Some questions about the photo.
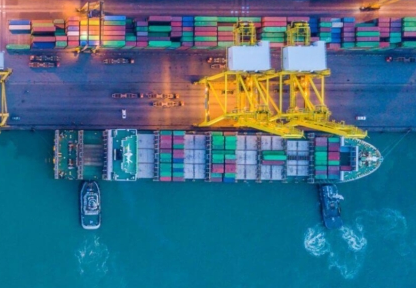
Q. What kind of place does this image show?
port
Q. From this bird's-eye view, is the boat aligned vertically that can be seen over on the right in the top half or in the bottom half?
bottom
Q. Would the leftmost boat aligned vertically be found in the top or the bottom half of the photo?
bottom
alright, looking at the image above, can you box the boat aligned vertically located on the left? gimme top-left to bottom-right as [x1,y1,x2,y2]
[80,181,102,231]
